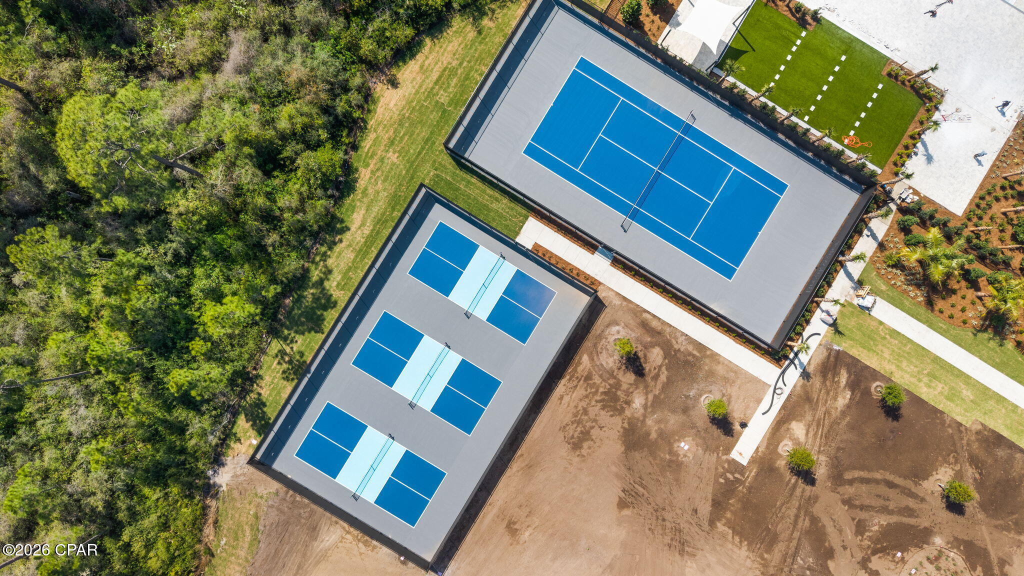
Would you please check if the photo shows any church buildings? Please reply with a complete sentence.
No, no church building can be seen from above.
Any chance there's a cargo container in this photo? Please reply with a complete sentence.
No, there's no cargo container here.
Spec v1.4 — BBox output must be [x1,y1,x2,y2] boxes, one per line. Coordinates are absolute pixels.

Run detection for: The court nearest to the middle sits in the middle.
[407,220,558,346]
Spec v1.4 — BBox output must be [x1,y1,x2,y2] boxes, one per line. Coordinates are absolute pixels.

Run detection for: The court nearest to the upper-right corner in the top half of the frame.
[444,0,867,348]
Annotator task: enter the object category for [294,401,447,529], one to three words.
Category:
sports court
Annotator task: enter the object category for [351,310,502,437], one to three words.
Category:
sports court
